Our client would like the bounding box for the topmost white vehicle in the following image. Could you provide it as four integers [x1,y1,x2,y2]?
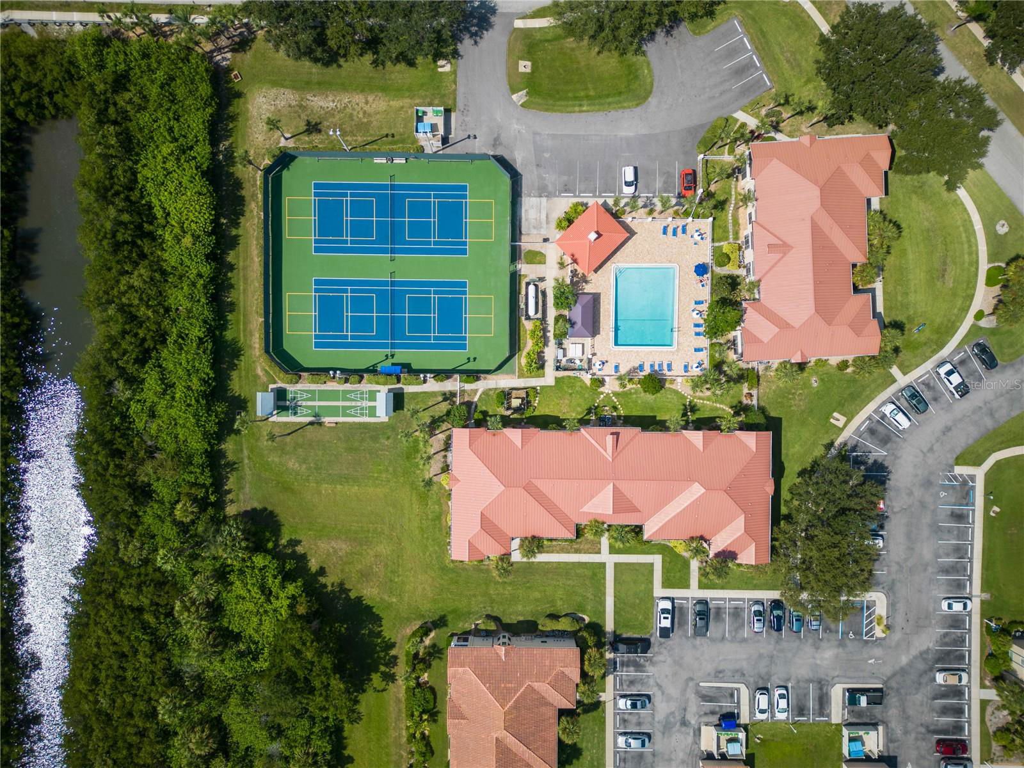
[623,164,638,194]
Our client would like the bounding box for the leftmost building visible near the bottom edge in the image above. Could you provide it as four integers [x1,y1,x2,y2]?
[447,635,580,768]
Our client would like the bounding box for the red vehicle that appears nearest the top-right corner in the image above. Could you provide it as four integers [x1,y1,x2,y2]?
[682,167,697,196]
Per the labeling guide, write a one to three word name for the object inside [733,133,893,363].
building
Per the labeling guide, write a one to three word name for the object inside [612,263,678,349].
swimming pool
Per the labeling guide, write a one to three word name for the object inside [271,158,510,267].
tennis court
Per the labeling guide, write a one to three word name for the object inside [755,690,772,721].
car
